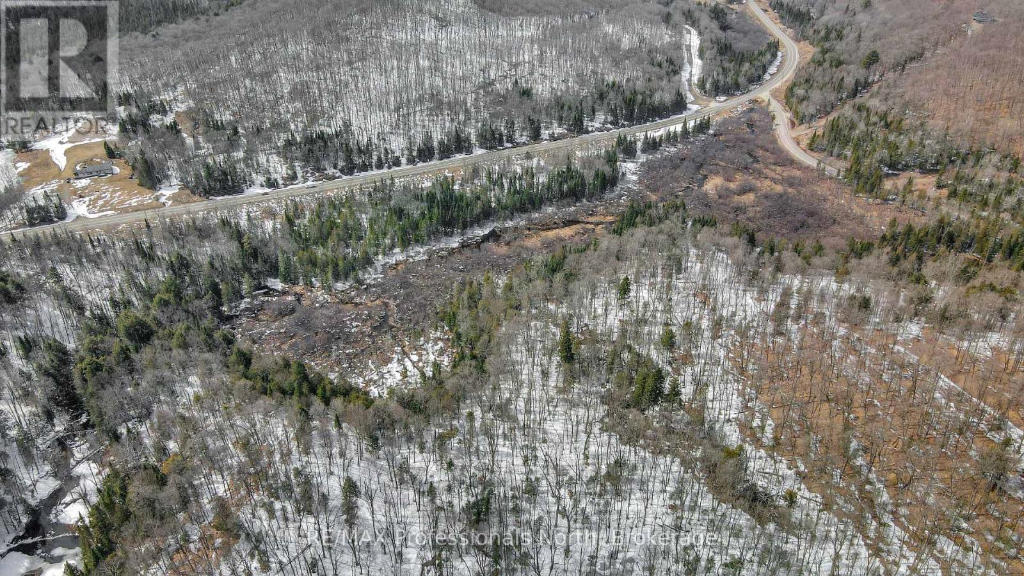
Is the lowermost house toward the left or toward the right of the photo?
left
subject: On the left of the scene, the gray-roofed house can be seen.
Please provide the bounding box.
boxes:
[71,158,110,178]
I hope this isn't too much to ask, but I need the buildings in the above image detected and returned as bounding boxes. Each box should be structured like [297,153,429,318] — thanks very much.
[969,10,995,23]
[71,158,110,178]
